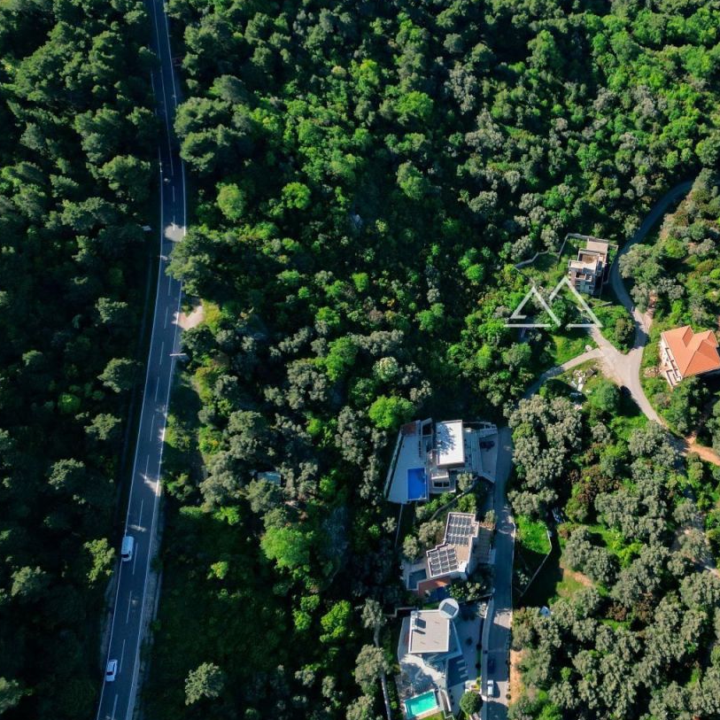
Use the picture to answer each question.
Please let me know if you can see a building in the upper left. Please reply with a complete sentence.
No, the scene shows no building in the upper left.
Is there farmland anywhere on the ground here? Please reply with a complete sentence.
No, no farmland is visible.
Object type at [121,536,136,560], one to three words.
vehicle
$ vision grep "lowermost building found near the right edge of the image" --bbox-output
[658,325,720,389]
